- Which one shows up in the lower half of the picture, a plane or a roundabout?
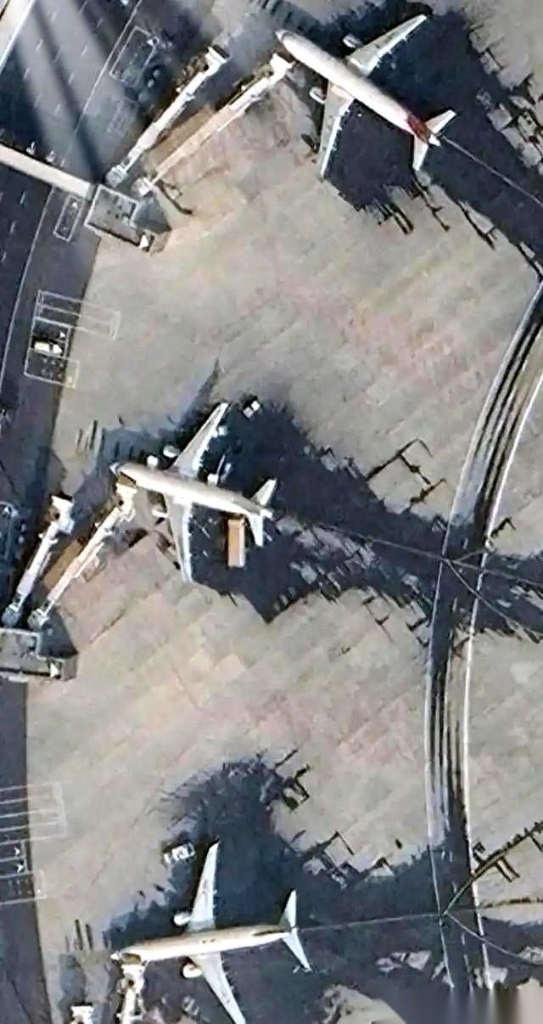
plane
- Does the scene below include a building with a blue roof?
No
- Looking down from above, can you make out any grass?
No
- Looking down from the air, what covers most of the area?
paved ground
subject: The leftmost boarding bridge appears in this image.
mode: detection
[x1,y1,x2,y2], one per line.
[3,489,75,626]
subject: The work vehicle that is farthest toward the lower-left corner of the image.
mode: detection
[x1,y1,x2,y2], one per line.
[164,844,195,863]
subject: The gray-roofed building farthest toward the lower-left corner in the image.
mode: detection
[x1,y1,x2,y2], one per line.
[0,629,78,681]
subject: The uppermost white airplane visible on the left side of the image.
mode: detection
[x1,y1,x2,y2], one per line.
[112,405,277,582]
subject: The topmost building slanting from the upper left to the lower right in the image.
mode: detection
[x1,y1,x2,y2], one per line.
[84,184,170,253]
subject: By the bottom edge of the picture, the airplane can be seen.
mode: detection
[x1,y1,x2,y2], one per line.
[112,842,309,1024]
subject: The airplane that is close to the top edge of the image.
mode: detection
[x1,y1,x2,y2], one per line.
[277,15,458,179]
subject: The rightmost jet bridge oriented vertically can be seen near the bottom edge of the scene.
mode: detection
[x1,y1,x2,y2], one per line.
[113,955,143,1024]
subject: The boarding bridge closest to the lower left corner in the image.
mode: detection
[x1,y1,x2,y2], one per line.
[64,1000,94,1024]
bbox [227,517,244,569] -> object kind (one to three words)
vehicle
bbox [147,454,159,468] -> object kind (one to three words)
vehicle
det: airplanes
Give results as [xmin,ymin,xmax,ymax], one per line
[277,15,458,179]
[112,405,277,582]
[112,842,309,1024]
